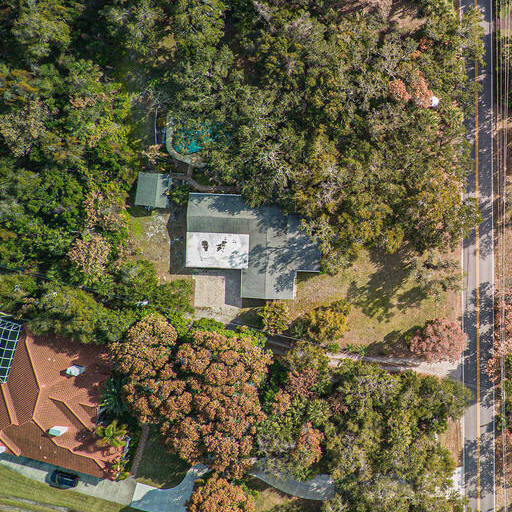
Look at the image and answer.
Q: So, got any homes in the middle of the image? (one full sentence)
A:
Yes, looking in the middle of the image, one can make out a home.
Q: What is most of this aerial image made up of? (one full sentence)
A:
The scene is dominated by trees.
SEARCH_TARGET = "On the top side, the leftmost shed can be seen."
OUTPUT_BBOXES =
[132,172,170,208]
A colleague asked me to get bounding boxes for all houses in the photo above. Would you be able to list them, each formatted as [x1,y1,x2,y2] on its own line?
[0,327,120,481]
[185,192,321,300]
